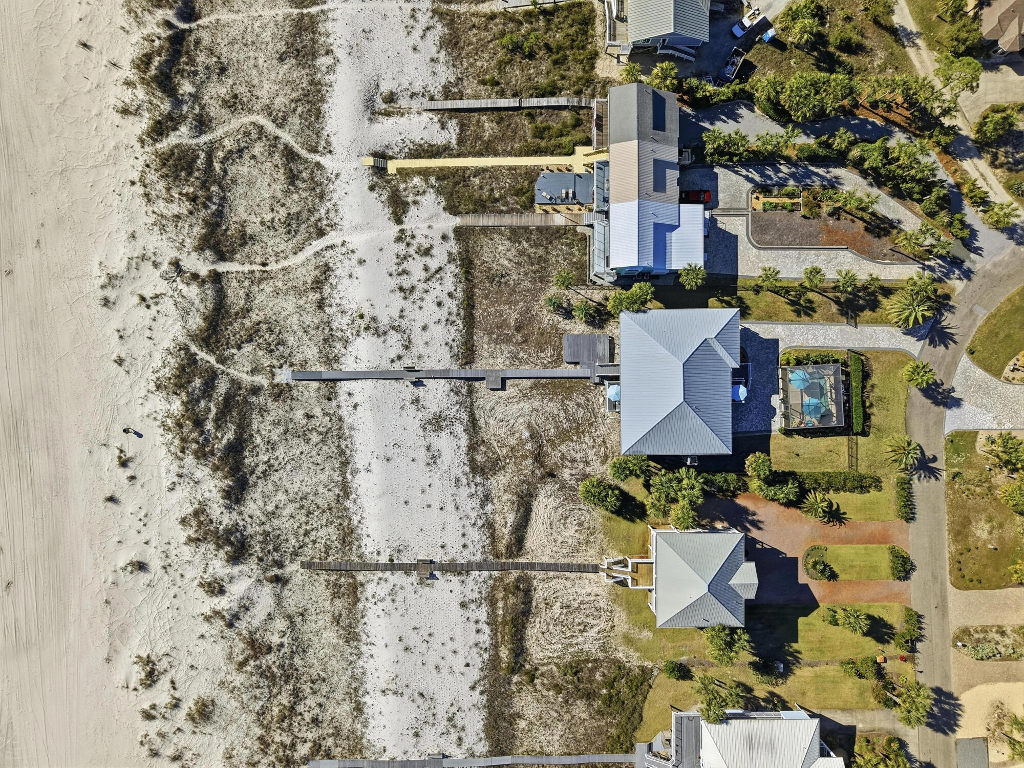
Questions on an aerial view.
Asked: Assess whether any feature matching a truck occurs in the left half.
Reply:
No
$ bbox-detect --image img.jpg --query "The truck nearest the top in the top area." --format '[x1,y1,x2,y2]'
[731,3,769,41]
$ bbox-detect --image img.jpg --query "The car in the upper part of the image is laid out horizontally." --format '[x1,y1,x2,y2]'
[679,188,711,204]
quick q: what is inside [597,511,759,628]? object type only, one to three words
house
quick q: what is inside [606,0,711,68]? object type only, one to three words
house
